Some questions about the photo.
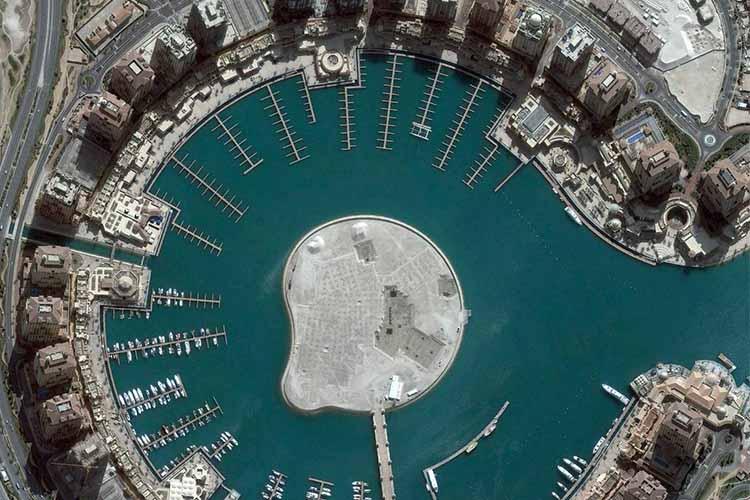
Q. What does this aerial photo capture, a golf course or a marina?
marina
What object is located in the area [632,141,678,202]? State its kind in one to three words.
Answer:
building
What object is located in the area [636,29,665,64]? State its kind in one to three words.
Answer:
building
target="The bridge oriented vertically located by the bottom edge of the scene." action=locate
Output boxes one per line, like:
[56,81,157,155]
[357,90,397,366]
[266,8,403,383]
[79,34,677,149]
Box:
[372,407,396,500]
